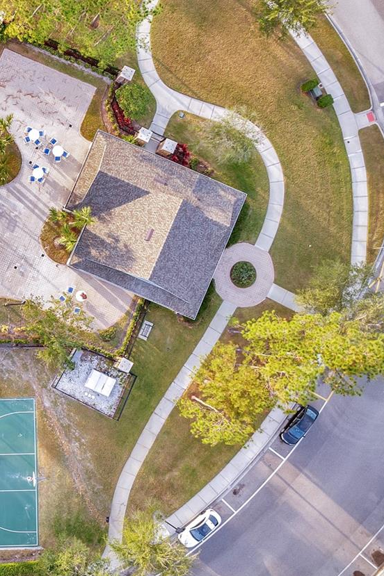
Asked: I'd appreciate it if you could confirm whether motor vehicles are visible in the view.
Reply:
Yes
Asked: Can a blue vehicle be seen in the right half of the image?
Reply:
Yes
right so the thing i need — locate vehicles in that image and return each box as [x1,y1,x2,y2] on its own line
[179,509,224,550]
[282,401,322,447]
